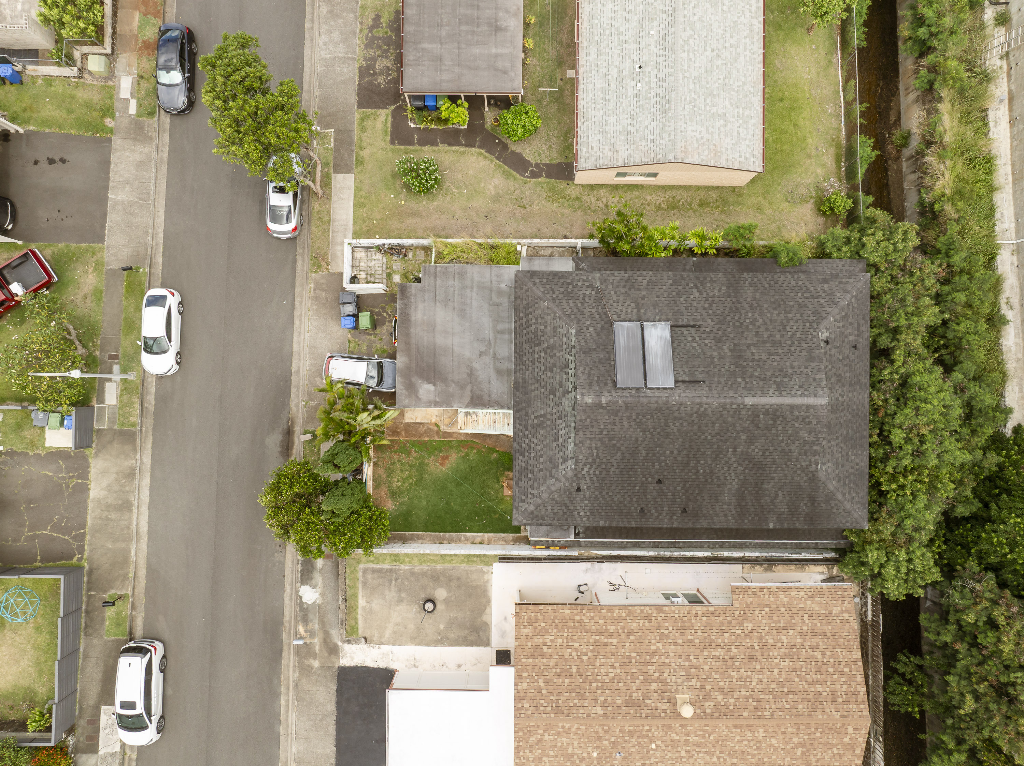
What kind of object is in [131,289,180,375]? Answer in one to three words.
car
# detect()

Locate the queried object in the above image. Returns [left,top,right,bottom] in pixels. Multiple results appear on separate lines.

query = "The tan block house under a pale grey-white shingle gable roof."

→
[570,0,766,184]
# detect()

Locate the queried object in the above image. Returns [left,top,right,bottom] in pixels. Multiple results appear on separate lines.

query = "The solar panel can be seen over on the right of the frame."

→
[597,286,705,387]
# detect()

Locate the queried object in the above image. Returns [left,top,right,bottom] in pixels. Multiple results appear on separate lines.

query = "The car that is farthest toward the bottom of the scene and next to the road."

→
[106,639,160,742]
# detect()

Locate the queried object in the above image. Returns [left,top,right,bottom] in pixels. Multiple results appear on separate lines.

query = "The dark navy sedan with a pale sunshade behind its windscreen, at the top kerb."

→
[148,25,195,116]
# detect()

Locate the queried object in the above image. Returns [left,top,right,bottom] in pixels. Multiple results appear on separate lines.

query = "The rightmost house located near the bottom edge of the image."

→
[515,573,871,766]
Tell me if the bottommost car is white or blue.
white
